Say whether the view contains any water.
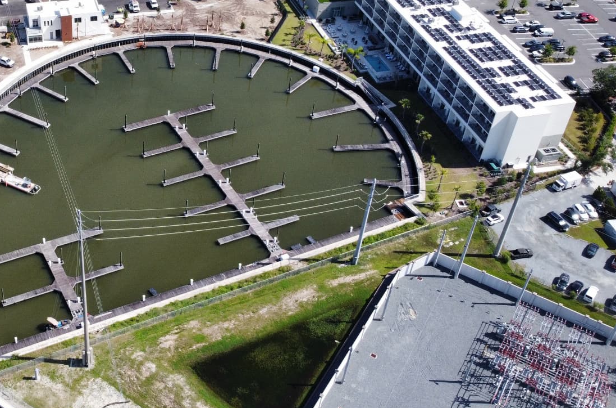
Yes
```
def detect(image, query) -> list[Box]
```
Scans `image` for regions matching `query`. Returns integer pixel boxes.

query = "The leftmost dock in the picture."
[0,227,124,320]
